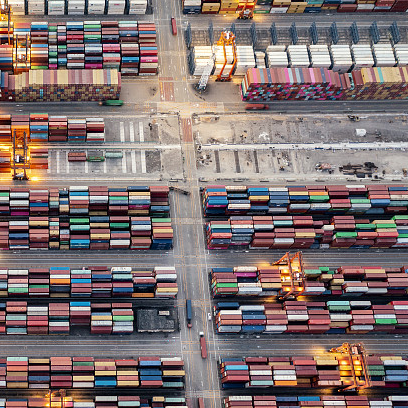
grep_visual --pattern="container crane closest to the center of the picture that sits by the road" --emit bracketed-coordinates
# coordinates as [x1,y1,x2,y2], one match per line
[271,252,307,302]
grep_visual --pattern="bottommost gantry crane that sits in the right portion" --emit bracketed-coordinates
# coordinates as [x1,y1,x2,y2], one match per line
[331,342,374,395]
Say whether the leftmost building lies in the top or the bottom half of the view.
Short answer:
bottom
